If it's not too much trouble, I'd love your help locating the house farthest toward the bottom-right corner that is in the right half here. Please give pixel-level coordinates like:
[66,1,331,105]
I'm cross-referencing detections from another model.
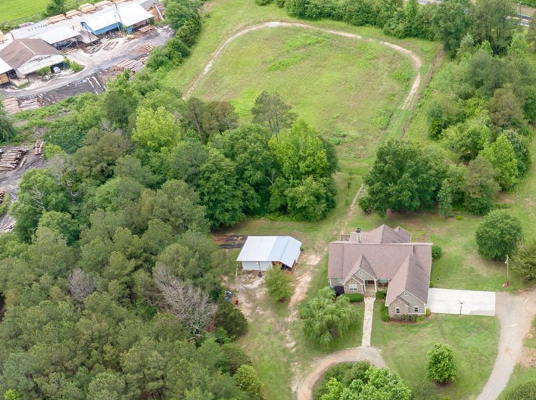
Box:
[327,224,435,322]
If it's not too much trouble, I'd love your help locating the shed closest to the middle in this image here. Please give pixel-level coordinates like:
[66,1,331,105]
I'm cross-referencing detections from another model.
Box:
[235,236,303,272]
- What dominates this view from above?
trees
